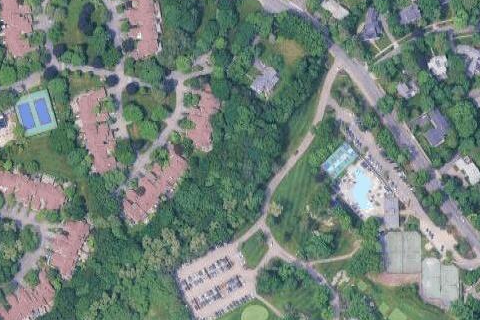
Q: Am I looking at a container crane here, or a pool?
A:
pool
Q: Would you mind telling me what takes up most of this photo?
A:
trees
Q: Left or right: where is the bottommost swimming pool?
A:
right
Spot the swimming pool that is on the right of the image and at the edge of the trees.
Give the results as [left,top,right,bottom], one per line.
[340,160,386,221]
